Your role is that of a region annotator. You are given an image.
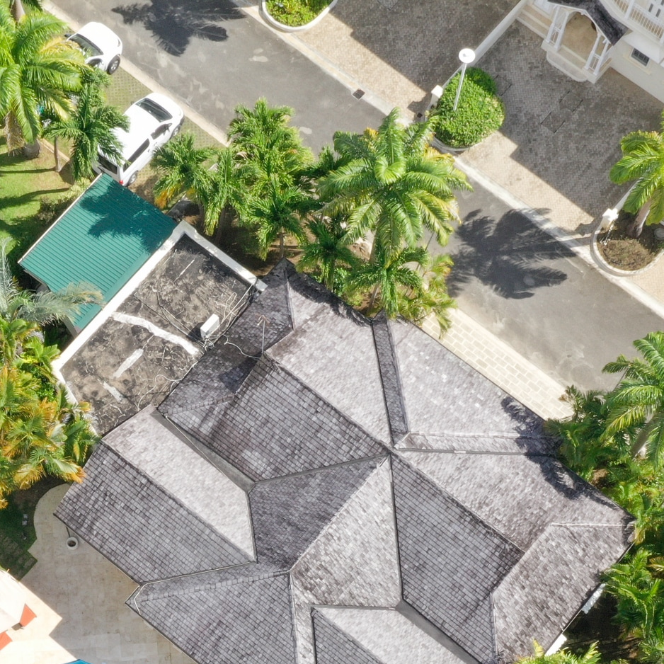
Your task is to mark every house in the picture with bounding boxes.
[508,0,664,104]
[52,256,635,664]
